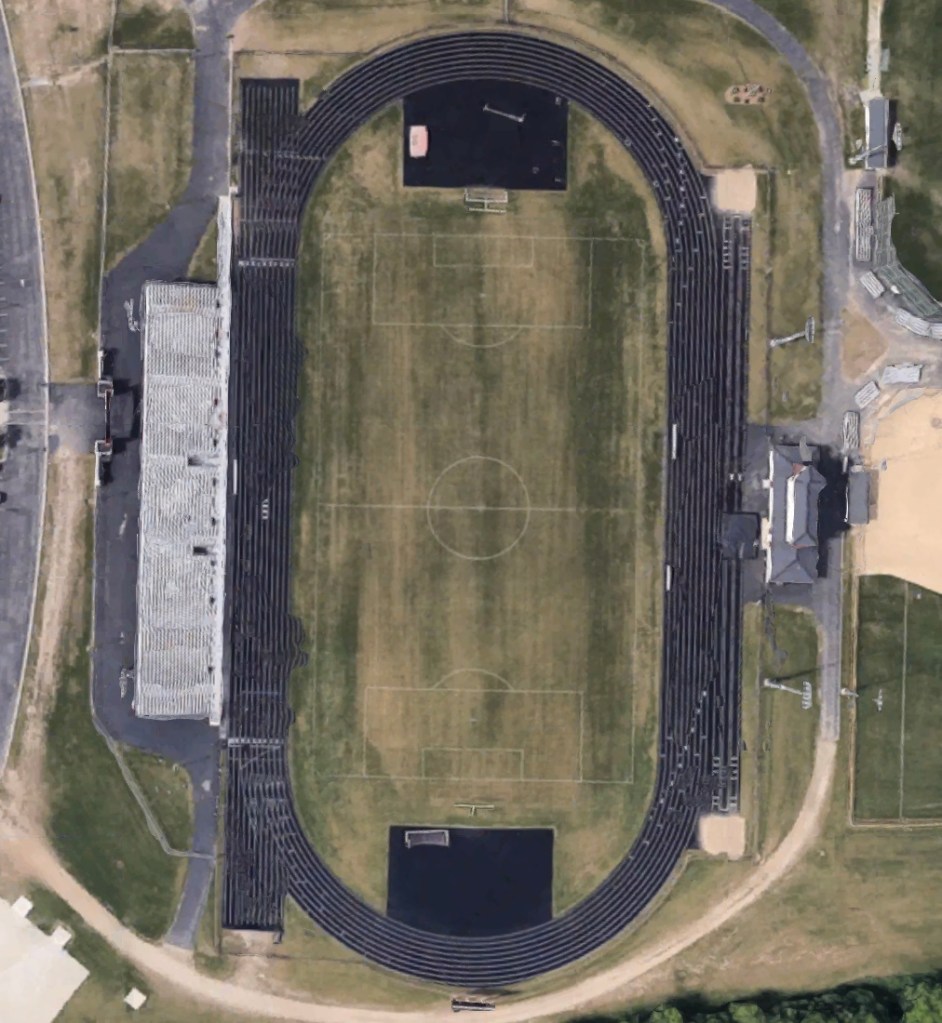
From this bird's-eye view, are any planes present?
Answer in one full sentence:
No, no plane is visible in the view.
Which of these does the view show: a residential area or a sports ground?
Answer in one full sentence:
It's a sports ground.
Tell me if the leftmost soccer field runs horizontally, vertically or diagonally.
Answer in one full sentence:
The leftmost soccer field is oriented vertically.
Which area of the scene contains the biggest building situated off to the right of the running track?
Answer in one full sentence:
The biggest building situated off to the right of the running track is in the right part of the image.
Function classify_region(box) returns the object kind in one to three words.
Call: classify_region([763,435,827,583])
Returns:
building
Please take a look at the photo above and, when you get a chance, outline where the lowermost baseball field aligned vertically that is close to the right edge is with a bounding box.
[849,390,942,826]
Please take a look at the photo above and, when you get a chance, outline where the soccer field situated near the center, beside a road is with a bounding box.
[292,99,665,918]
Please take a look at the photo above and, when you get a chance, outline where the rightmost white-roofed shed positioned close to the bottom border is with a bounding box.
[123,989,146,1013]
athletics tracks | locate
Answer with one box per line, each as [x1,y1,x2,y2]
[216,29,754,987]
